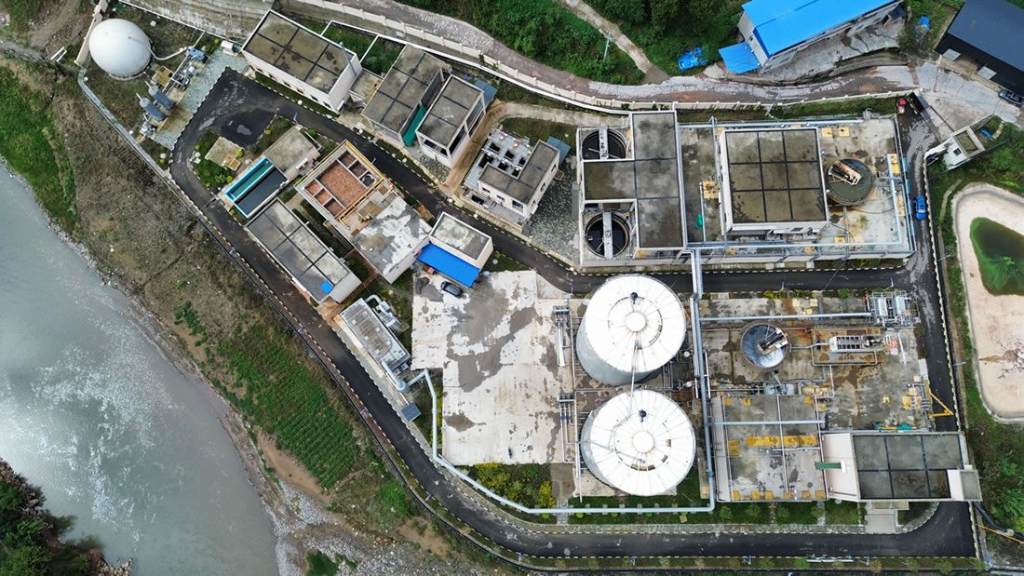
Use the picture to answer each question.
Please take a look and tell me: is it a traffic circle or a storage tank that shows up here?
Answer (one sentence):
Looking from above, you can make out a storage tank.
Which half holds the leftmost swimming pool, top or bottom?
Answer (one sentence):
The leftmost swimming pool is in the top half of the image.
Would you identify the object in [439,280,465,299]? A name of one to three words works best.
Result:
car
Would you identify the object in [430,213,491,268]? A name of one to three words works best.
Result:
building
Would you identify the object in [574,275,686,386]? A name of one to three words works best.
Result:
storage tank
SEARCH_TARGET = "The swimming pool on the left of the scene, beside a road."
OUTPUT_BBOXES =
[220,159,292,220]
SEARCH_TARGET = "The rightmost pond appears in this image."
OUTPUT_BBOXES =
[951,181,1024,424]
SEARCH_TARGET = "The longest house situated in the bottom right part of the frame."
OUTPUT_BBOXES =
[816,430,982,506]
